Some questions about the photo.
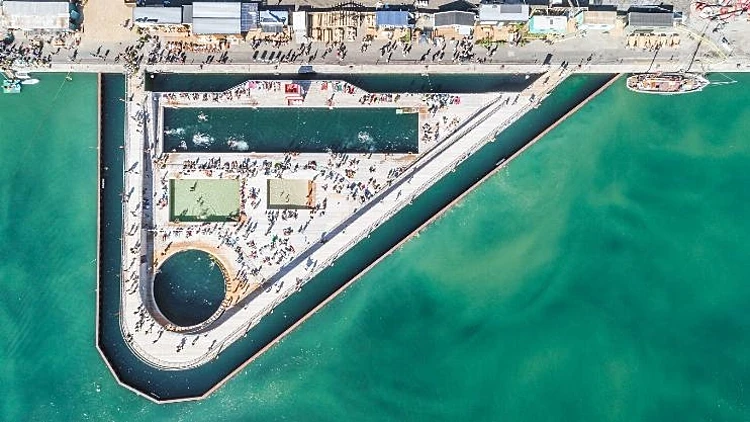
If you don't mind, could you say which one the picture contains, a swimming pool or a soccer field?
swimming pool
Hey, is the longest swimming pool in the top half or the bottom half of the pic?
top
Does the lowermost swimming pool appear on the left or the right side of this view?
left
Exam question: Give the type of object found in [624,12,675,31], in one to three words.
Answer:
building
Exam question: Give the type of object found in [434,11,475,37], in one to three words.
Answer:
building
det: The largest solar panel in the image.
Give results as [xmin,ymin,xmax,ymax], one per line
[242,3,256,31]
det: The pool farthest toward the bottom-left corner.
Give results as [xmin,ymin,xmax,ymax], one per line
[152,250,230,328]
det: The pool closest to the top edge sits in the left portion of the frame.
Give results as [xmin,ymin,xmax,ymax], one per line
[161,105,420,155]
